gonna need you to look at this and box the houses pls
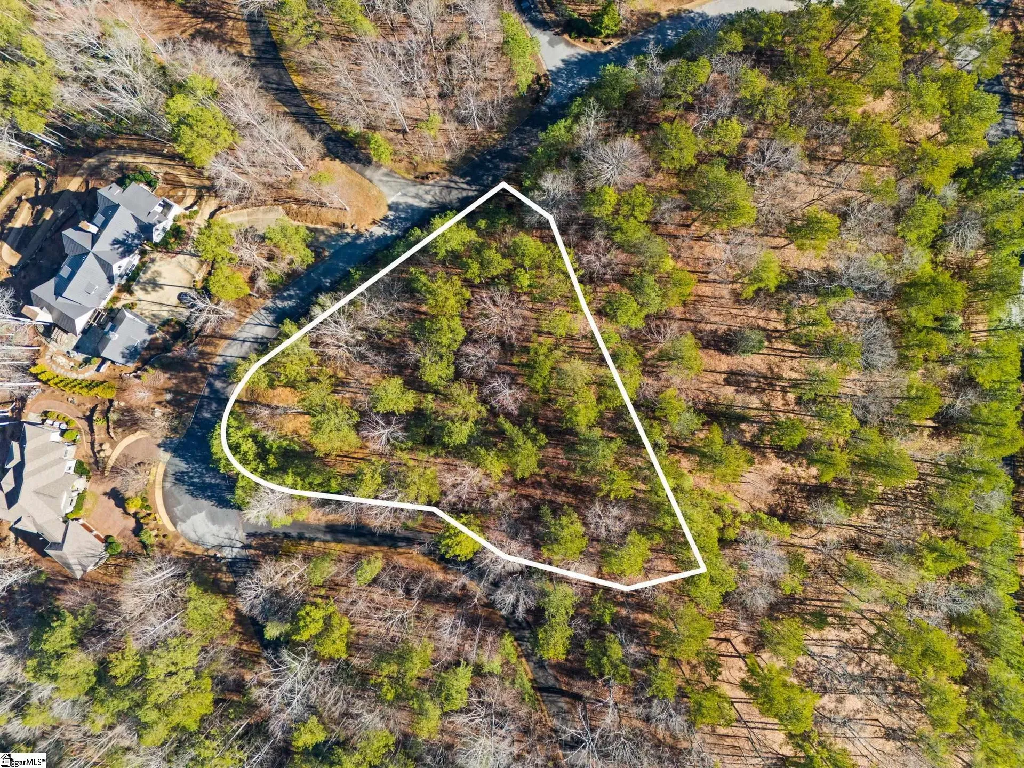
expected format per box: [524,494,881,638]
[0,421,112,580]
[19,180,191,337]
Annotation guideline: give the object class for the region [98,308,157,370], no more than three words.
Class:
building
